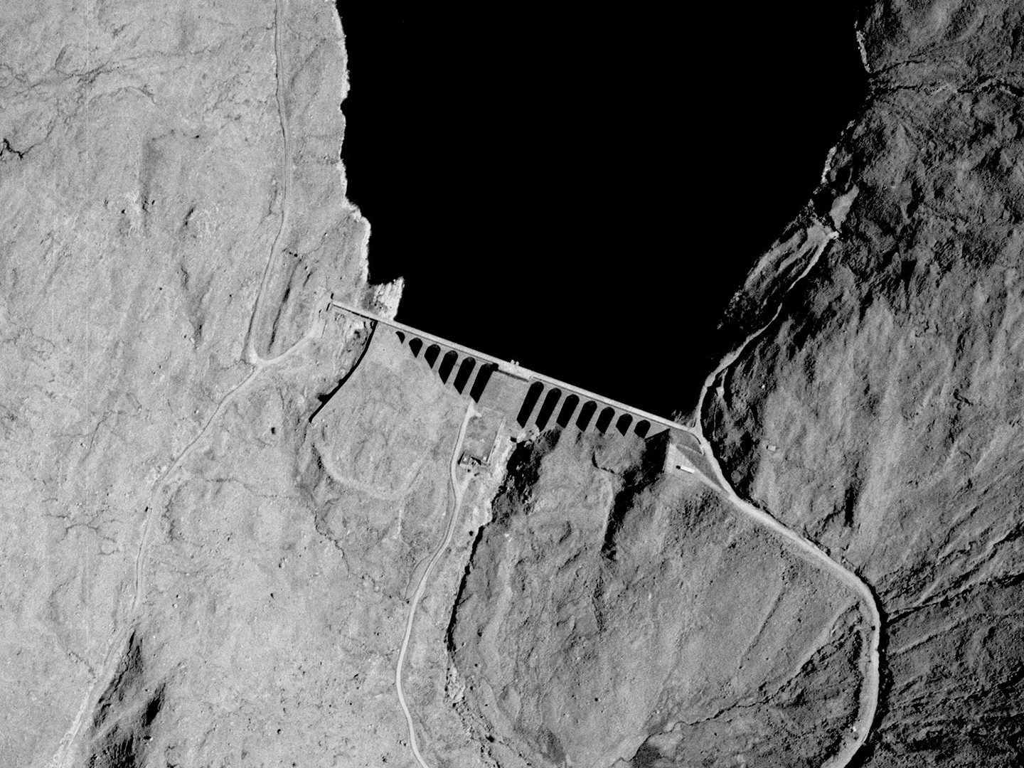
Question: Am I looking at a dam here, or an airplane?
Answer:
dam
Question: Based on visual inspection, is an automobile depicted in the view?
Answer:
No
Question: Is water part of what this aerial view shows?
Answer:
Yes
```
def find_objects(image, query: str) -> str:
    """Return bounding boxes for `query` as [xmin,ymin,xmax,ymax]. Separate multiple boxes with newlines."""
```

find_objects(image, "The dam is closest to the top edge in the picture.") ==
[333,301,701,443]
